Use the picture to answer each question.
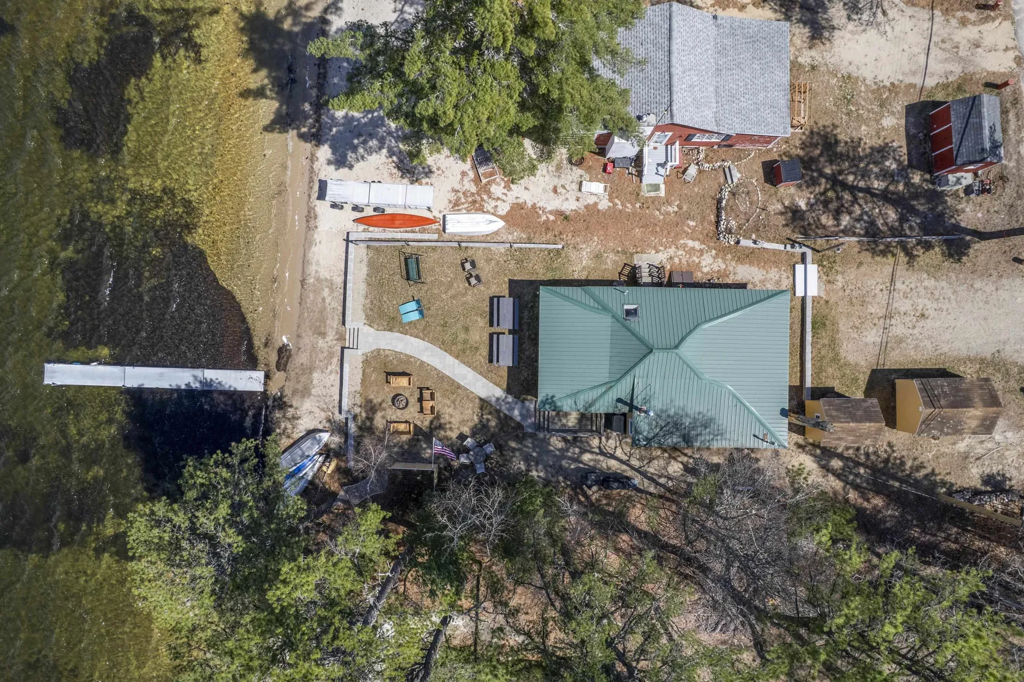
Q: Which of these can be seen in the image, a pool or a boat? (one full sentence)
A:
Looking from above, you can make out a boat.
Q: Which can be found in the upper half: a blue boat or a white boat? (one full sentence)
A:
What appears in the upper half is a white boat.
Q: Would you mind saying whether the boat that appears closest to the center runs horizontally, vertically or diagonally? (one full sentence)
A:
The boat that appears closest to the center is oriented horizontally.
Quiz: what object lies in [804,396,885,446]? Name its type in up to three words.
shed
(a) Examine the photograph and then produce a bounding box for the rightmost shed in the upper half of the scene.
[929,94,1004,173]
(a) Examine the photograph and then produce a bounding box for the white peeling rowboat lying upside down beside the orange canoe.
[443,212,505,235]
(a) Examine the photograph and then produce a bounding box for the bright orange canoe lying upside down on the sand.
[354,213,436,230]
